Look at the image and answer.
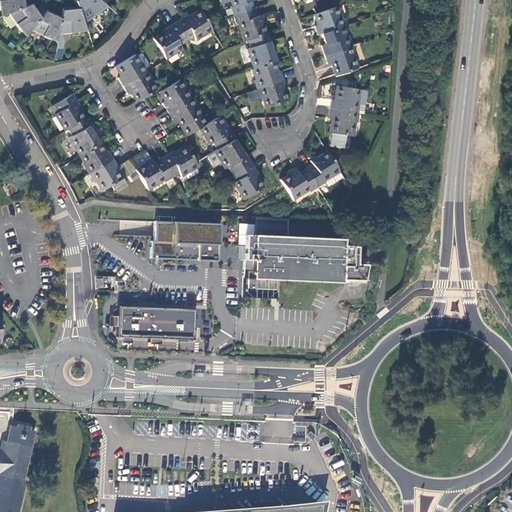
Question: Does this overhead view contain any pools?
No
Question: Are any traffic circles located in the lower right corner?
Yes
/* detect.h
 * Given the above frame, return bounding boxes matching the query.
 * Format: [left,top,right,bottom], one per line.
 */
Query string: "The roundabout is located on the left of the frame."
[44,338,112,402]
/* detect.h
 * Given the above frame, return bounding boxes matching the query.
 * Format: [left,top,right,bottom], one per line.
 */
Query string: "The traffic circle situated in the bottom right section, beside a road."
[314,290,512,512]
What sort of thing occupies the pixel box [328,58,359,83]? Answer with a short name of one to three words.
house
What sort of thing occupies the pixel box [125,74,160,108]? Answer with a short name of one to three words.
house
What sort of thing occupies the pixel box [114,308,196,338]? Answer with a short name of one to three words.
building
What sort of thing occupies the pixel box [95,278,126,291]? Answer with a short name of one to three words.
shed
